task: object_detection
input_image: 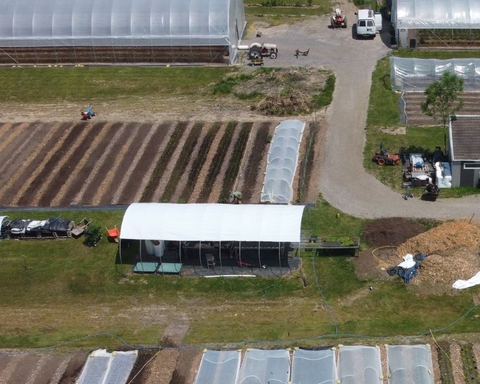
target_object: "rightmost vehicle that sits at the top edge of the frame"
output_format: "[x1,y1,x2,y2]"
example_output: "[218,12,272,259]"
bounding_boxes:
[357,8,387,36]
